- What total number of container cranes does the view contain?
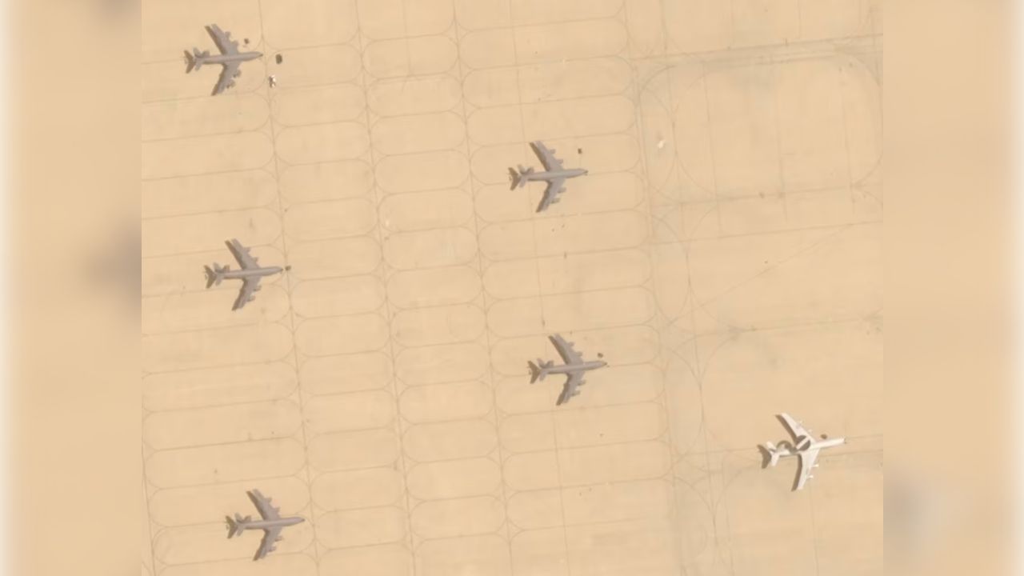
none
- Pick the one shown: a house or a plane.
plane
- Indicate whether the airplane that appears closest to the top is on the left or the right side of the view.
left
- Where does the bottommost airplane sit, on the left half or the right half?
left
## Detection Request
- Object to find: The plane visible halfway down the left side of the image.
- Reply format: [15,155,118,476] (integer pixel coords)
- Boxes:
[212,238,283,309]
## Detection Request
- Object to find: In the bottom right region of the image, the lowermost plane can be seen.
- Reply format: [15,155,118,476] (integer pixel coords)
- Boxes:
[766,413,845,488]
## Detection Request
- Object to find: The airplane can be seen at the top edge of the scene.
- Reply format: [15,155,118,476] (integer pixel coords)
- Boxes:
[192,23,263,93]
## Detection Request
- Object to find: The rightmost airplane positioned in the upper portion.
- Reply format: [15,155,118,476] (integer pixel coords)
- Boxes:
[517,140,588,210]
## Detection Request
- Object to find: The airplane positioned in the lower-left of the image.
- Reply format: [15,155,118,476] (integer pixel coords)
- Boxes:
[234,489,304,559]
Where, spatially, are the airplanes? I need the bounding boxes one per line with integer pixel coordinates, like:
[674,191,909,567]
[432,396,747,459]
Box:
[234,489,304,559]
[537,333,607,403]
[212,238,283,309]
[517,140,588,210]
[192,23,263,93]
[766,413,845,488]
